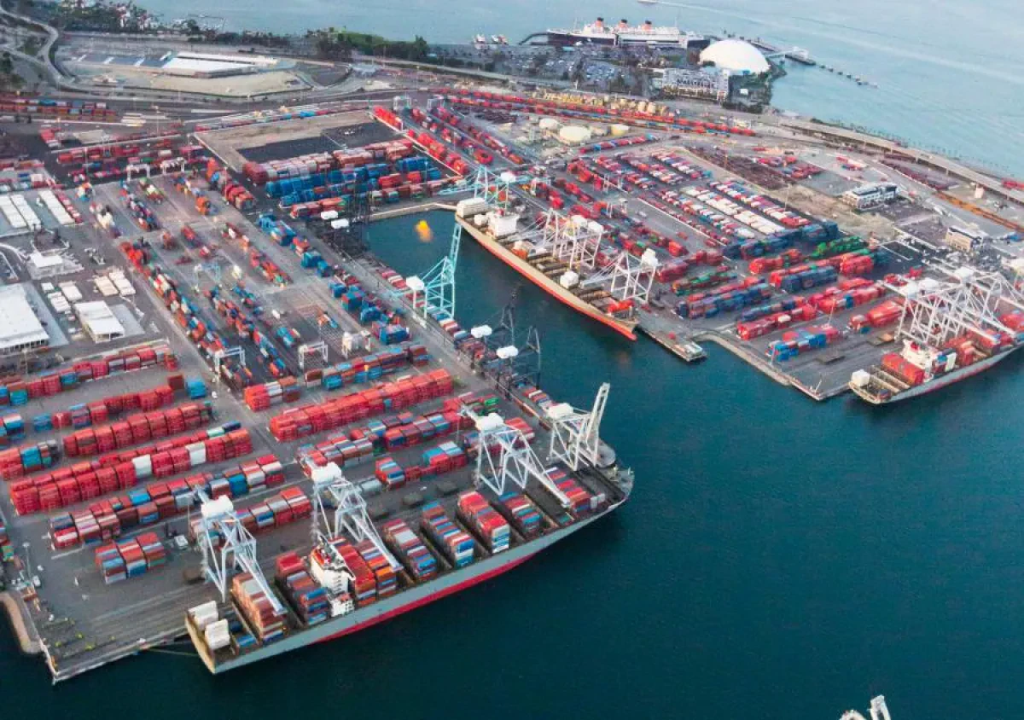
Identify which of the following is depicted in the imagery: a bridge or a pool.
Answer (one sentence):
Visible in the photo is a bridge.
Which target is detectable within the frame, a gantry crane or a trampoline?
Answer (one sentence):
The one in the frame is a gantry crane.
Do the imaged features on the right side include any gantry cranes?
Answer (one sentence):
Yes, there is a gantry crane on the right side.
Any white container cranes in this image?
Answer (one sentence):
Yes, a white container crane is visible in the scene.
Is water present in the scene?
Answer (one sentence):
Yes, water can be seen from above here.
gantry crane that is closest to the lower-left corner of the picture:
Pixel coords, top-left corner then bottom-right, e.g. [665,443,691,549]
[196,497,294,620]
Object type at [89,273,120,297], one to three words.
building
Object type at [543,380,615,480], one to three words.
container crane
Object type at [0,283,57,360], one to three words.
building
